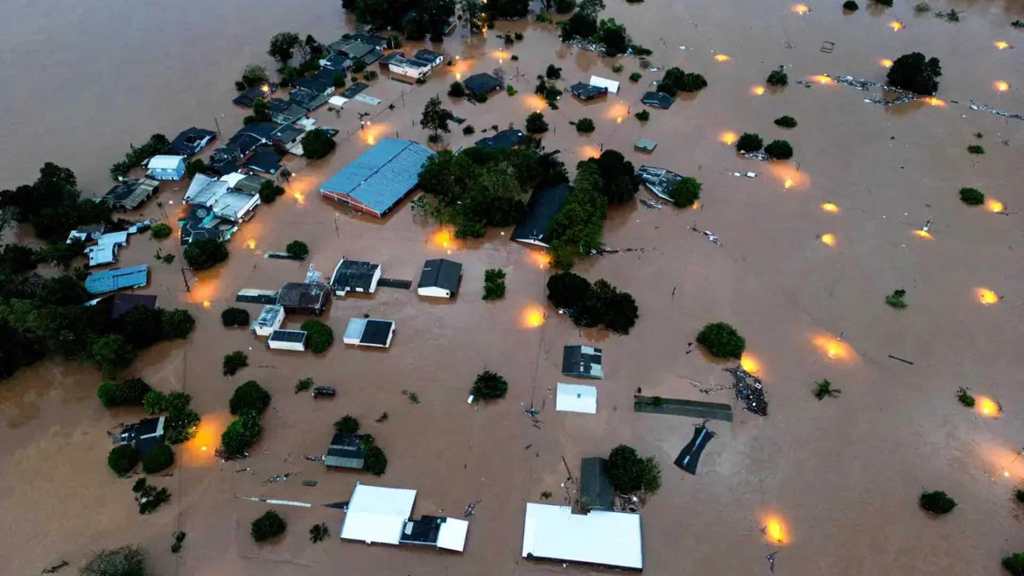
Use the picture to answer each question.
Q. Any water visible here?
Yes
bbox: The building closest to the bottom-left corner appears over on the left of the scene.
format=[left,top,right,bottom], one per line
[107,417,166,464]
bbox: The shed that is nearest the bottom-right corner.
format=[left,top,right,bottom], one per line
[635,395,733,422]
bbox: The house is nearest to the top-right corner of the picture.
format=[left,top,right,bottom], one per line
[641,91,675,112]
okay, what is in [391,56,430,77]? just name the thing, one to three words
house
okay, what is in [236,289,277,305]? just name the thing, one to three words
shed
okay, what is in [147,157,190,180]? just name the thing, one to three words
house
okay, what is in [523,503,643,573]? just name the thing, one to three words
building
